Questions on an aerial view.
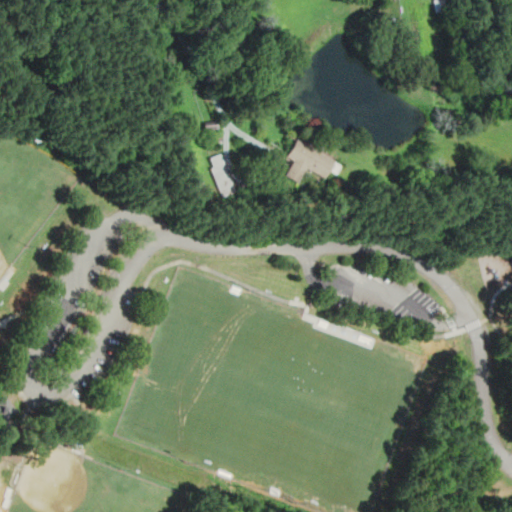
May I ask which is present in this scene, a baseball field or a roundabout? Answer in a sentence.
Visible in the photo is a baseball field.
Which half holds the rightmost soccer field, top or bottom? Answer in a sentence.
It is in the bottom half that the rightmost soccer field appears.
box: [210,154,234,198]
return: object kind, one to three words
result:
house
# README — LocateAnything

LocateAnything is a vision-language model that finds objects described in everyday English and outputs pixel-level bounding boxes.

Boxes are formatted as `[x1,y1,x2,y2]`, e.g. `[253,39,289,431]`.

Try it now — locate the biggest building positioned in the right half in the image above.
[286,140,336,186]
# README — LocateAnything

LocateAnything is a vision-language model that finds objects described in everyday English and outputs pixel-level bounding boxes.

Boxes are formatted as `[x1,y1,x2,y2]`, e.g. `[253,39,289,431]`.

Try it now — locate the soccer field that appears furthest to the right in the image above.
[117,267,420,512]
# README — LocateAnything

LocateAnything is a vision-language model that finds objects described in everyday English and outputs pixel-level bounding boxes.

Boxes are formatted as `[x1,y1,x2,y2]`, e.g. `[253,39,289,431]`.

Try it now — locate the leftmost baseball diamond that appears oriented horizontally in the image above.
[7,446,172,512]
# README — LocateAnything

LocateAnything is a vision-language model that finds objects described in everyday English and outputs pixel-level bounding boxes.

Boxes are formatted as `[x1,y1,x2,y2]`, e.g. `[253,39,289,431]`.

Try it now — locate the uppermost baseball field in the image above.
[0,140,76,282]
